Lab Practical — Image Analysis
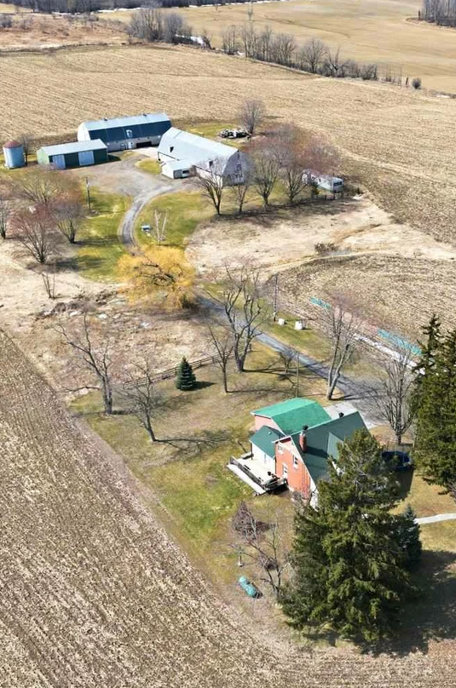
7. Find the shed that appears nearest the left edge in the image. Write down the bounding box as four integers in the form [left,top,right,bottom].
[36,139,108,171]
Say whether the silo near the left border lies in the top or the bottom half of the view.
top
